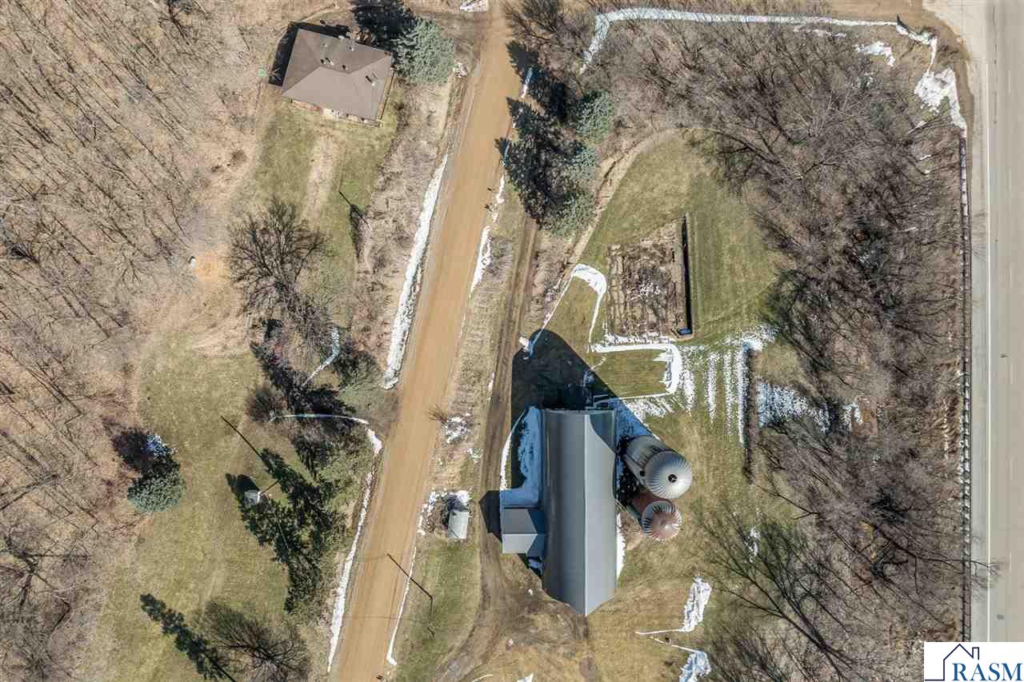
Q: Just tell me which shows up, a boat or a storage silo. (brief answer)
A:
storage silo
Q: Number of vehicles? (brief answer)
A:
0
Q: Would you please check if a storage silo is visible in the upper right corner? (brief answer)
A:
No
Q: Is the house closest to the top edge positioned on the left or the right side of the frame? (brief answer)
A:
left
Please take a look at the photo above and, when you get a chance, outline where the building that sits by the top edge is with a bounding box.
[282,29,399,128]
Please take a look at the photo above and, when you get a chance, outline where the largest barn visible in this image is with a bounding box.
[542,410,616,618]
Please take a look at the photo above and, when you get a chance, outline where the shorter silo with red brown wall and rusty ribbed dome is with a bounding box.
[624,483,682,543]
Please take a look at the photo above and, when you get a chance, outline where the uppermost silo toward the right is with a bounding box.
[621,435,694,501]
